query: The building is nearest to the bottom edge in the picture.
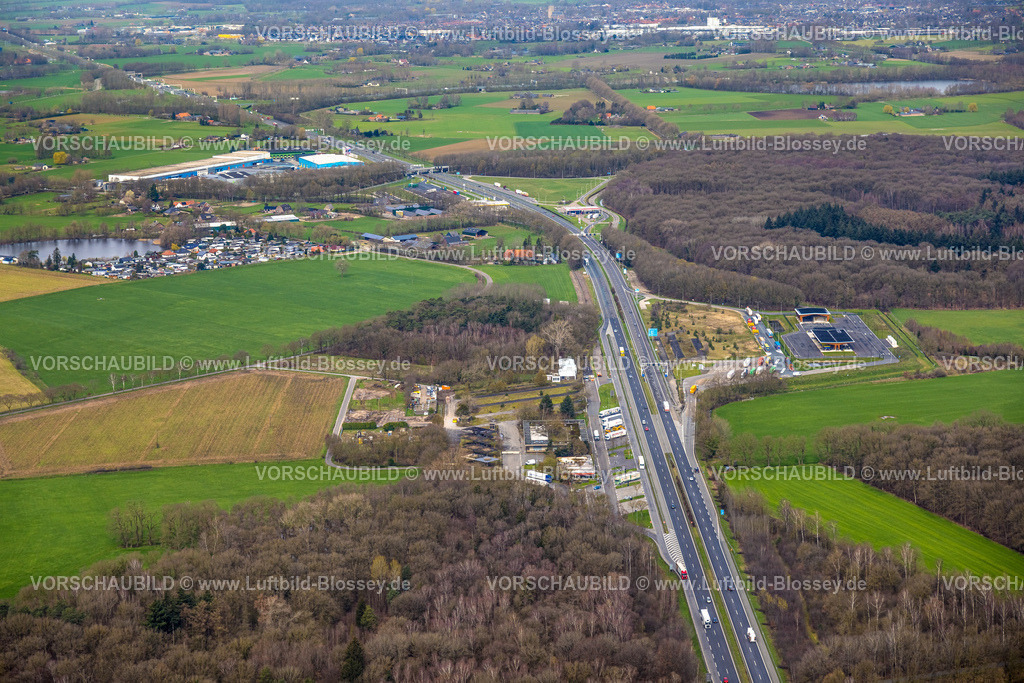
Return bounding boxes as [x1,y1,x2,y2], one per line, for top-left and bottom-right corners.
[556,456,595,482]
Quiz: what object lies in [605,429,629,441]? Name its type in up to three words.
vehicle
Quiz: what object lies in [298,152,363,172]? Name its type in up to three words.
building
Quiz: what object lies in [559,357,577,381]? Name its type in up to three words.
building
